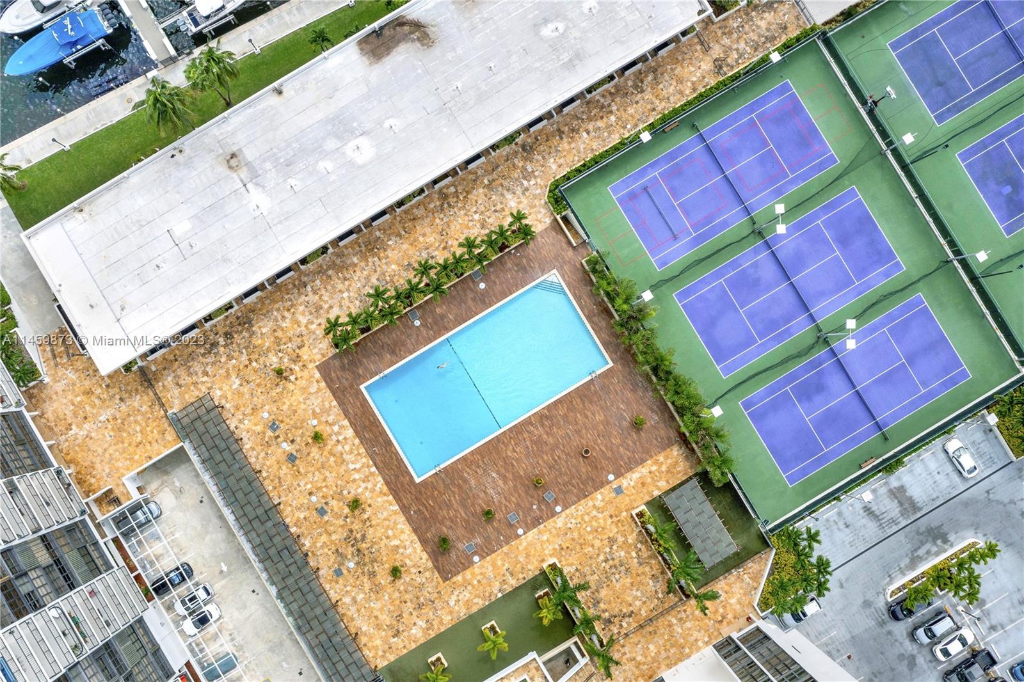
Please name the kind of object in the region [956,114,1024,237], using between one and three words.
tennis court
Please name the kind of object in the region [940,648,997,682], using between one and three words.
vehicle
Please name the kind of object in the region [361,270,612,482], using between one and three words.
swimming pool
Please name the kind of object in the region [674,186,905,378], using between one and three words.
tennis court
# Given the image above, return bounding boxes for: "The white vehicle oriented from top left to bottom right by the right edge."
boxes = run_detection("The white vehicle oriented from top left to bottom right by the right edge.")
[942,437,977,480]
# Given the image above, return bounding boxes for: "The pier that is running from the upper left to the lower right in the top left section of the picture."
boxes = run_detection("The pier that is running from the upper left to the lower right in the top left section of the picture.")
[126,0,178,65]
